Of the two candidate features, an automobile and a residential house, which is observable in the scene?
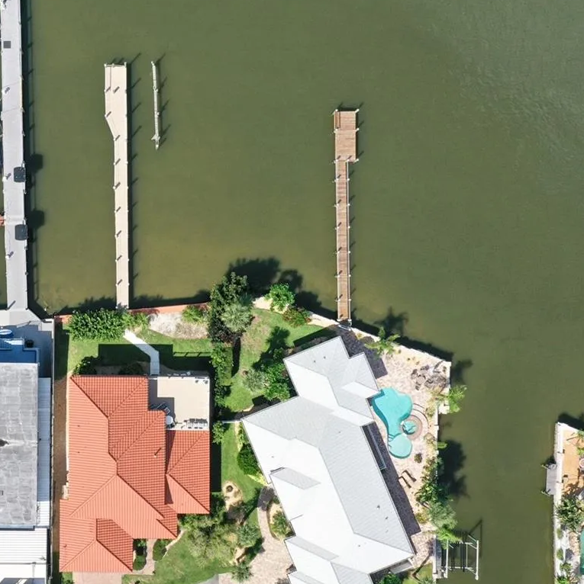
residential house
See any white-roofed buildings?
Yes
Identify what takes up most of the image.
water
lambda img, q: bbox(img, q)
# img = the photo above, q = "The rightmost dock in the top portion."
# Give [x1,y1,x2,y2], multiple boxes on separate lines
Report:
[331,108,360,324]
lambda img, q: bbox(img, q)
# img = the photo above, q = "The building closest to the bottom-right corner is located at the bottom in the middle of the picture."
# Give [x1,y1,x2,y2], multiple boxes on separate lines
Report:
[241,336,416,584]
